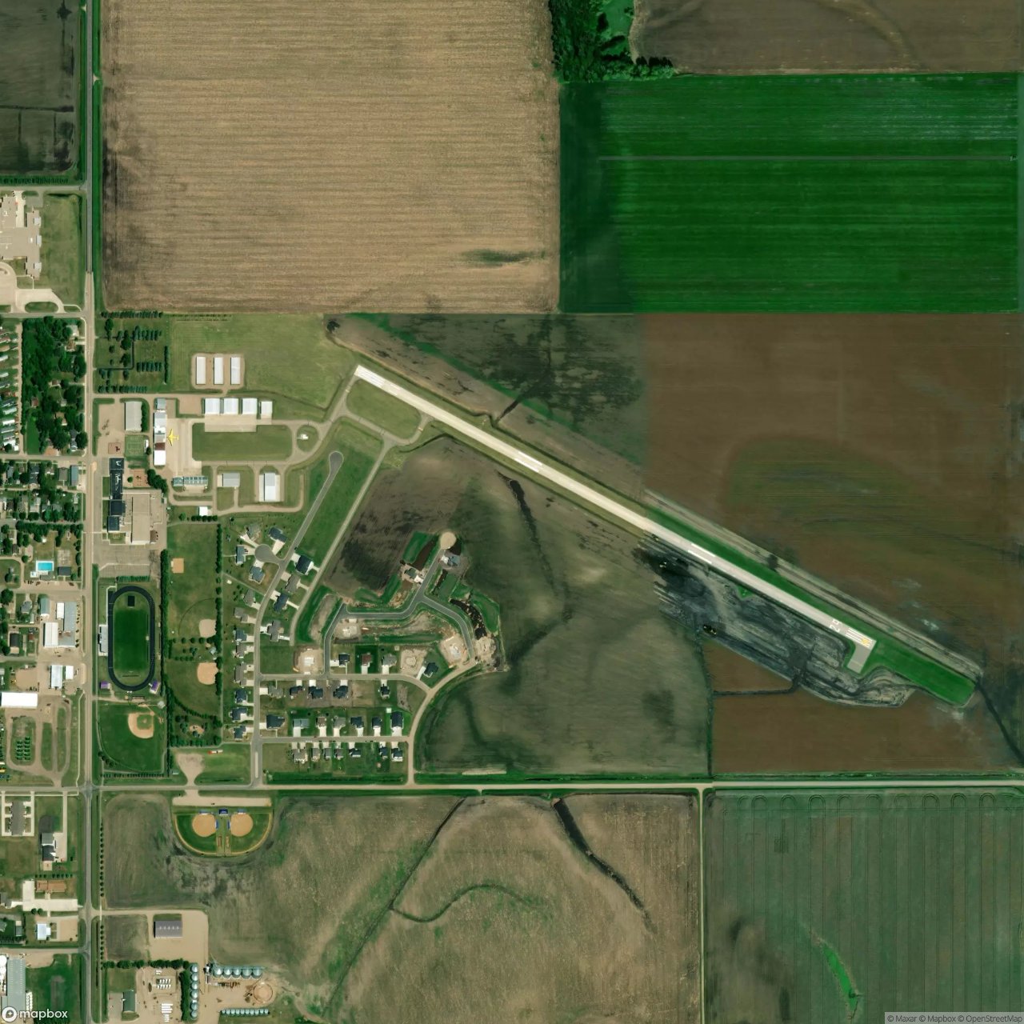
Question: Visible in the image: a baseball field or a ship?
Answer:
baseball field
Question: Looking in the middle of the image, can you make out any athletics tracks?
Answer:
No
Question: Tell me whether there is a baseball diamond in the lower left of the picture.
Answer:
Yes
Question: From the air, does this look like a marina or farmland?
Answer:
farmland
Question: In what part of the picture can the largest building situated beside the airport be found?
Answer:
left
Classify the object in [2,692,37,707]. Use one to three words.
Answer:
building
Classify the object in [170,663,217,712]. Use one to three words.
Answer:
baseball field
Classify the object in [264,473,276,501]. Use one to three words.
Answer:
hangar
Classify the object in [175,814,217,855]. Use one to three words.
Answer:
baseball field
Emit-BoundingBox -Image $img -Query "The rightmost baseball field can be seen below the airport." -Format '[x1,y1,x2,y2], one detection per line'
[230,810,272,855]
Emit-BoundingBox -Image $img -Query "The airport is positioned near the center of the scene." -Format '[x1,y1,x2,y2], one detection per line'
[166,365,876,673]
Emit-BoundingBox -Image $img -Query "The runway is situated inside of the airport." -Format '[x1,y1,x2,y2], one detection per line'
[355,365,876,650]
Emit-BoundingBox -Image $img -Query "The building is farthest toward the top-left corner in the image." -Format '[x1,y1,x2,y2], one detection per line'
[0,196,41,280]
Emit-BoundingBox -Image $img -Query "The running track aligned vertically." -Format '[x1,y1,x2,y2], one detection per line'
[108,586,155,691]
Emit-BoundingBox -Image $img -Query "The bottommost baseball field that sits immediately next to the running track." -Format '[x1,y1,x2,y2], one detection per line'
[99,704,166,772]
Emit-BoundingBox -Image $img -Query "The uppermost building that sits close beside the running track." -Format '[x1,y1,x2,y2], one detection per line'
[108,458,162,543]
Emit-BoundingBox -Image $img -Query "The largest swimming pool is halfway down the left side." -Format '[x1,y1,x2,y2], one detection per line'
[36,560,54,575]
